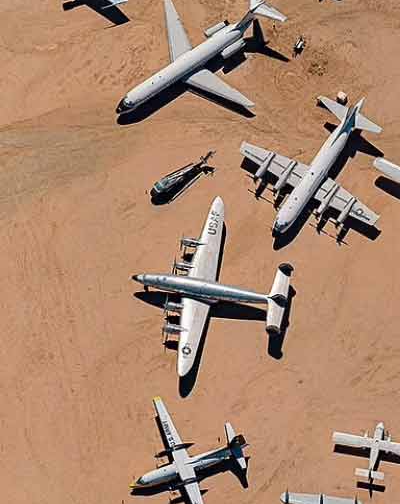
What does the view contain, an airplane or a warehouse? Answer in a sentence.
I can see an airplane in this picture.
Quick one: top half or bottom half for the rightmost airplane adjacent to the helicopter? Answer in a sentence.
The rightmost airplane adjacent to the helicopter sits in the top half of the picture.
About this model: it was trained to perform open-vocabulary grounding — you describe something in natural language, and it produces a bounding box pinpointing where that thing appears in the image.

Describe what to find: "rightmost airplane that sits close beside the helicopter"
[238,95,382,231]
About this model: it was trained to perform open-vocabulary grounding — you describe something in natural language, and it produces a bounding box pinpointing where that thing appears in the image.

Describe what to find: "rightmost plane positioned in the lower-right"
[332,424,400,479]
